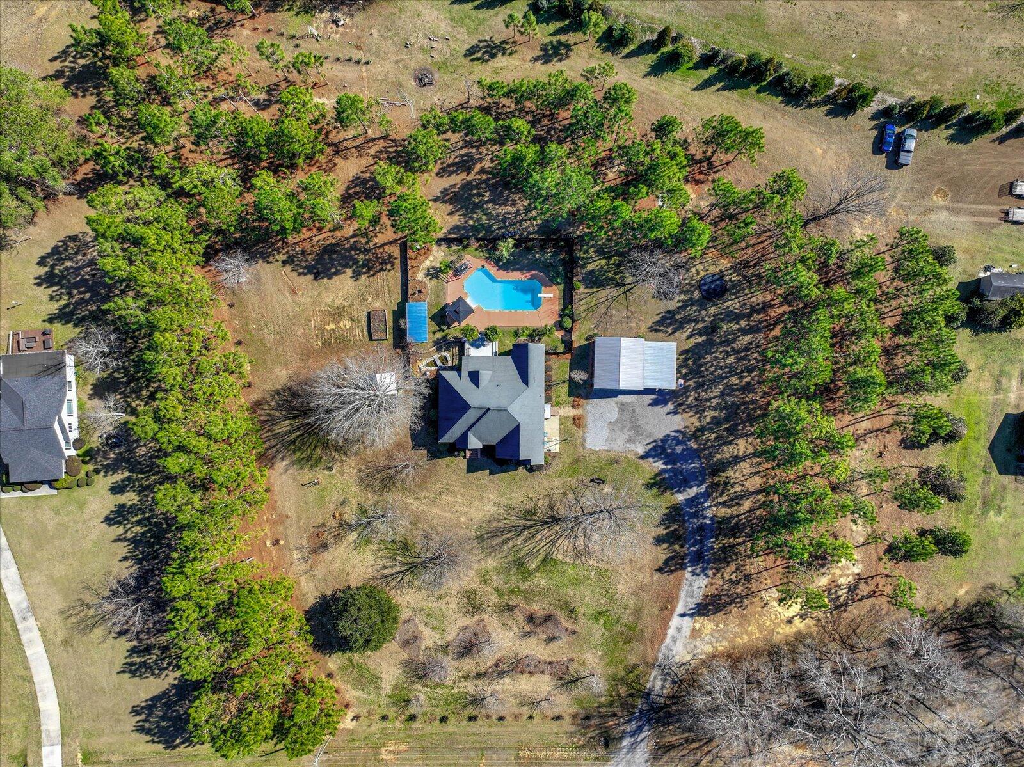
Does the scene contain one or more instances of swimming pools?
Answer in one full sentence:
Yes, the photo shows a swimming pool.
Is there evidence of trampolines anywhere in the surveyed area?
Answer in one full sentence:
Yes, a trampoline can be made out from above.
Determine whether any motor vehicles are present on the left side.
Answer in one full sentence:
No, there is no motor vehicle on the left side.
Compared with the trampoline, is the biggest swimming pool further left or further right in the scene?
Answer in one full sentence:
In the image, the biggest swimming pool sits on the left side of the trampoline.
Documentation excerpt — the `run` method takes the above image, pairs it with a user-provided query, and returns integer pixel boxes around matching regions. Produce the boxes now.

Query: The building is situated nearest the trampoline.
[593,337,677,389]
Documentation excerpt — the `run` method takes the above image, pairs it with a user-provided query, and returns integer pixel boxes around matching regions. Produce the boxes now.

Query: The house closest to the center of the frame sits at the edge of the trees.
[438,337,551,466]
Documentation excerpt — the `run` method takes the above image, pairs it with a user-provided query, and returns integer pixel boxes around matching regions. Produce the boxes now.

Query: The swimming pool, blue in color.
[462,265,544,312]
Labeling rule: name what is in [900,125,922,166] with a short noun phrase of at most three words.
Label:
truck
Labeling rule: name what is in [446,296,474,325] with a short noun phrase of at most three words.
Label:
gazebo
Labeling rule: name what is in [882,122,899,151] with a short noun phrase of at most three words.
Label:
car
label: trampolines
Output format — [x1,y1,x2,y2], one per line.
[699,272,728,300]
